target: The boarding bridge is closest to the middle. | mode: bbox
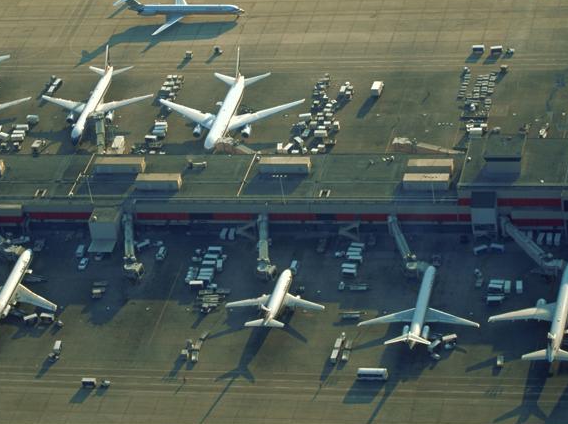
[254,214,279,283]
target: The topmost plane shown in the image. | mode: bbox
[121,0,246,35]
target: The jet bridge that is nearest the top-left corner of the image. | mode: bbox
[89,114,110,153]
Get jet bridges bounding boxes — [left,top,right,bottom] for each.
[384,215,426,283]
[0,243,22,266]
[120,215,146,283]
[221,137,266,153]
[254,214,279,283]
[89,114,110,153]
[499,222,565,281]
